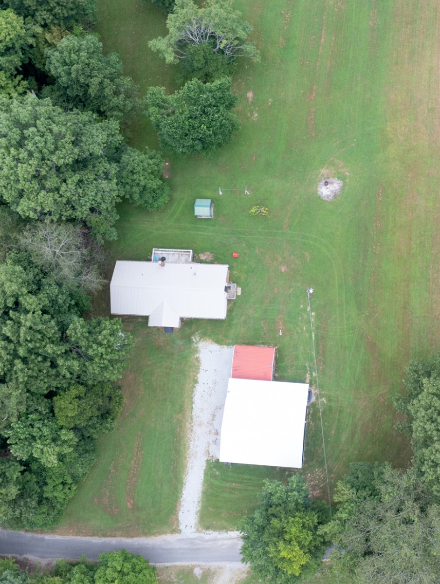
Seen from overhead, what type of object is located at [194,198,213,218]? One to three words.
shed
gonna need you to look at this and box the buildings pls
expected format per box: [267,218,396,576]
[194,198,213,218]
[110,248,237,333]
[221,378,309,468]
